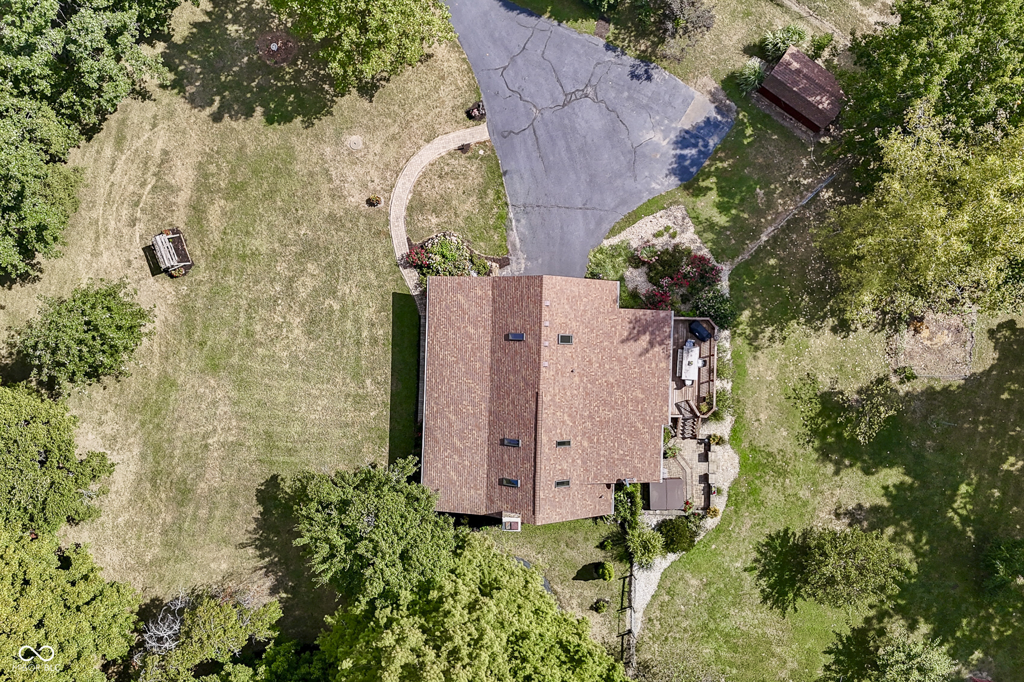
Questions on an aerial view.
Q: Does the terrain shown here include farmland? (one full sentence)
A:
No, no farmland is visible.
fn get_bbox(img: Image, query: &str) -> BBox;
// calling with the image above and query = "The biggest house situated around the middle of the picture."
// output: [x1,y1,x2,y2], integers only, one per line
[419,274,675,532]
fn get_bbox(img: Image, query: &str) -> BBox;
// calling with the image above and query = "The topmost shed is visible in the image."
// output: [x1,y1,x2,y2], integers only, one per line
[755,44,852,134]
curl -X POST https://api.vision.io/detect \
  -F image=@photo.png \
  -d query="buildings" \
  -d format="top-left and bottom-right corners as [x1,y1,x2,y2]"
[755,44,852,134]
[419,274,675,532]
